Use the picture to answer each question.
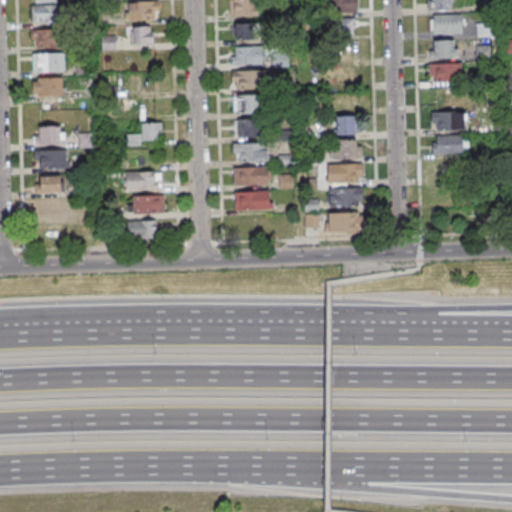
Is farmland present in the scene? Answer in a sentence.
No, no farmland is visible.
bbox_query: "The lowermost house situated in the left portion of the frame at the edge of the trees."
[128,220,157,241]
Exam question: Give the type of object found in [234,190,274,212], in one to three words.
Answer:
house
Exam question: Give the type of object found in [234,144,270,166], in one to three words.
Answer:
house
